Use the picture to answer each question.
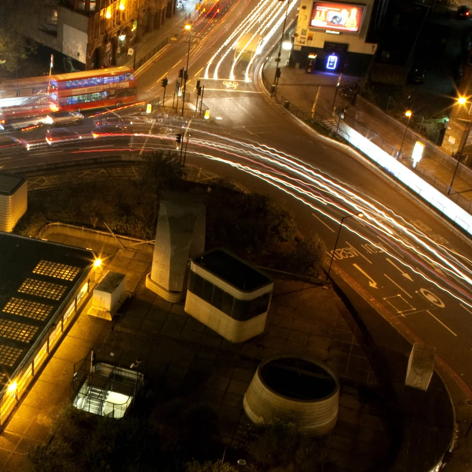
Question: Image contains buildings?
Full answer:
Yes, there's a building here.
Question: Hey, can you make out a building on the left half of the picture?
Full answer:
Yes, a building can be seen on the left half of the picture.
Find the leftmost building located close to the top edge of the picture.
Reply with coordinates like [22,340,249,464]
[30,0,196,69]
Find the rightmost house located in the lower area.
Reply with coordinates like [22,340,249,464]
[185,249,273,339]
